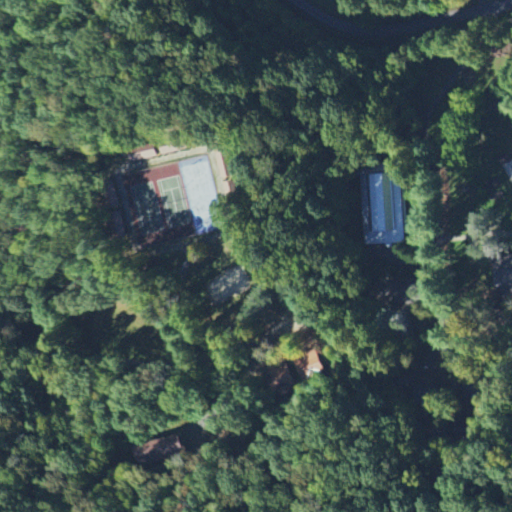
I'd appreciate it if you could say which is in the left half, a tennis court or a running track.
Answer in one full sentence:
It is a tennis court that can be seen in the left half.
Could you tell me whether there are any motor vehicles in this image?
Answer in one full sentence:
No, no motor vehicle is visible in the scene.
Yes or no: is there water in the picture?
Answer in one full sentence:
No, the scene doesn't show any water.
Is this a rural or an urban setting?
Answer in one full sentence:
It looks rural.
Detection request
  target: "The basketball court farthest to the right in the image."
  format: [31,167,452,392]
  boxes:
[179,155,224,234]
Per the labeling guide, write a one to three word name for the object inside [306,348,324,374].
house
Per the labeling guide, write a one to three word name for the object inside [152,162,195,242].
tennis court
